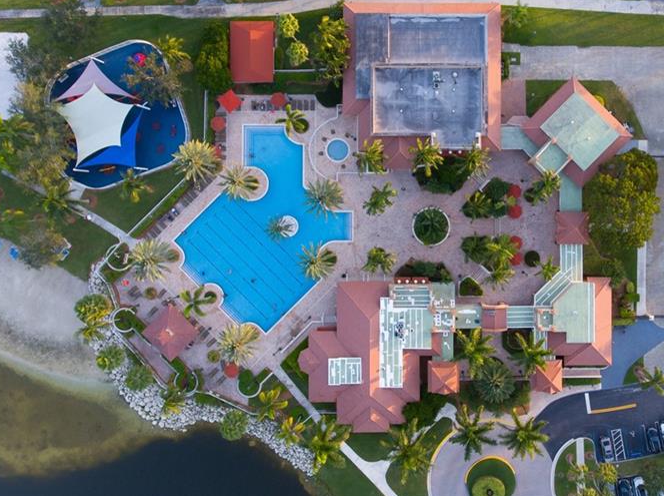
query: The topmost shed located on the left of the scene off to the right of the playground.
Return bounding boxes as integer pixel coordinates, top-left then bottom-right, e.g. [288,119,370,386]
[230,21,276,84]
